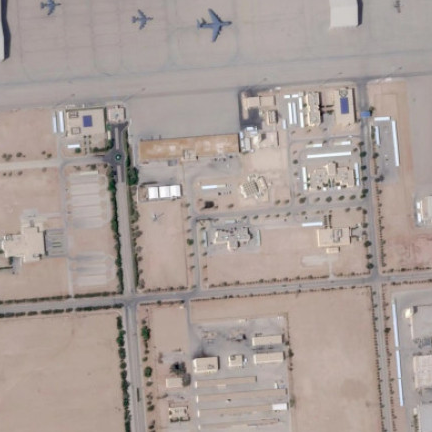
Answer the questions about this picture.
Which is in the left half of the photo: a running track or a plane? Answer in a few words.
plane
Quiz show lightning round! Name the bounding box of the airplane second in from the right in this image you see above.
[132,9,152,29]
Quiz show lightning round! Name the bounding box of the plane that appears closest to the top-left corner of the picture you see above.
[40,0,60,15]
